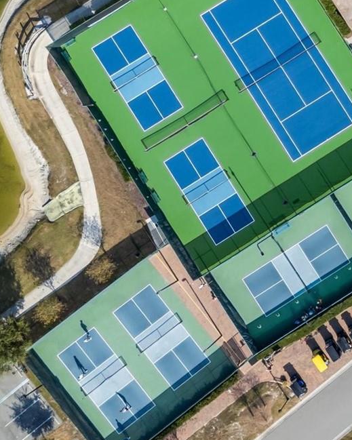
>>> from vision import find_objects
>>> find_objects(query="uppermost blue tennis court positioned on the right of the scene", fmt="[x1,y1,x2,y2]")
[200,0,352,161]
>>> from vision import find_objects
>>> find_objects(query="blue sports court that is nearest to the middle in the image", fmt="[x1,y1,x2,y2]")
[163,138,253,245]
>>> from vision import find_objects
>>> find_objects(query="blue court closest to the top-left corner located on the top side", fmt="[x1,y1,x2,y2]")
[91,24,182,130]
